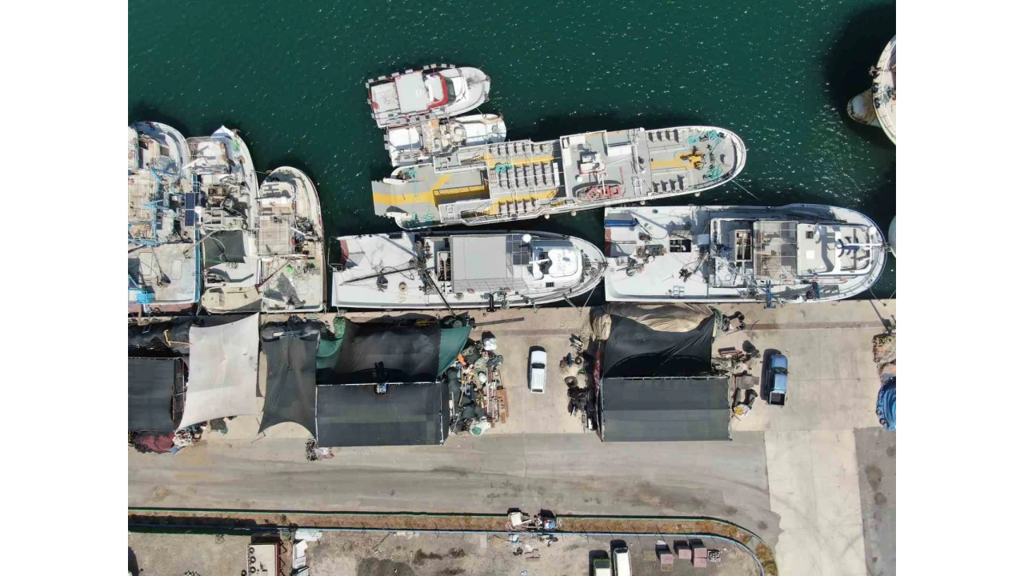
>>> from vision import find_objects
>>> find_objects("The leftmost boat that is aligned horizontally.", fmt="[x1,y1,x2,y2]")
[202,284,266,313]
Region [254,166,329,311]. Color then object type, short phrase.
white boat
